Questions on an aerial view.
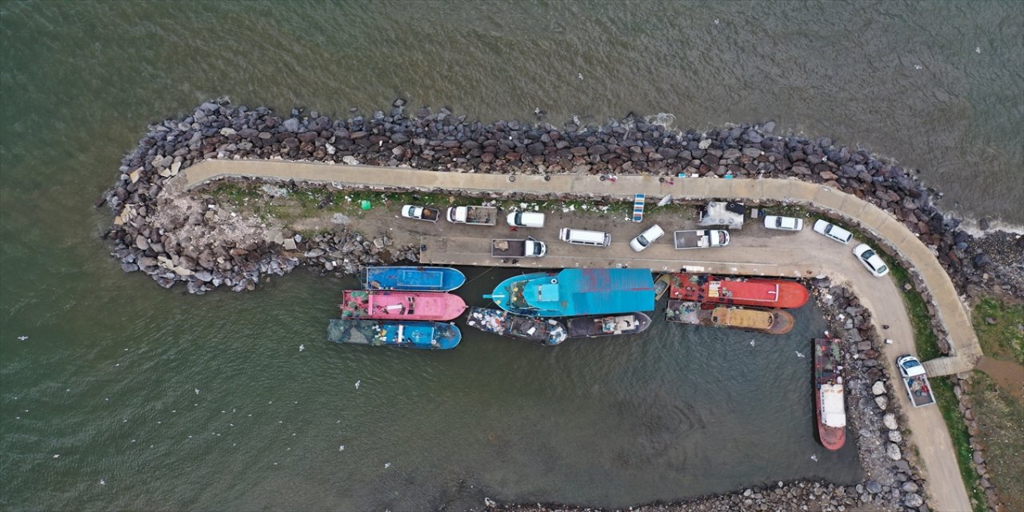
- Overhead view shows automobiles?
Yes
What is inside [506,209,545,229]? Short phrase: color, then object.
white vehicle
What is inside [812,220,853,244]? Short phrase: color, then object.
white car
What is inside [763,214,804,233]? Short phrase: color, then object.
white car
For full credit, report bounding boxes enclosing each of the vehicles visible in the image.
[492,232,547,258]
[675,228,730,250]
[447,205,497,226]
[852,243,889,278]
[506,209,545,229]
[629,225,666,252]
[812,220,853,244]
[401,203,440,222]
[559,227,611,248]
[897,354,940,408]
[763,214,804,233]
